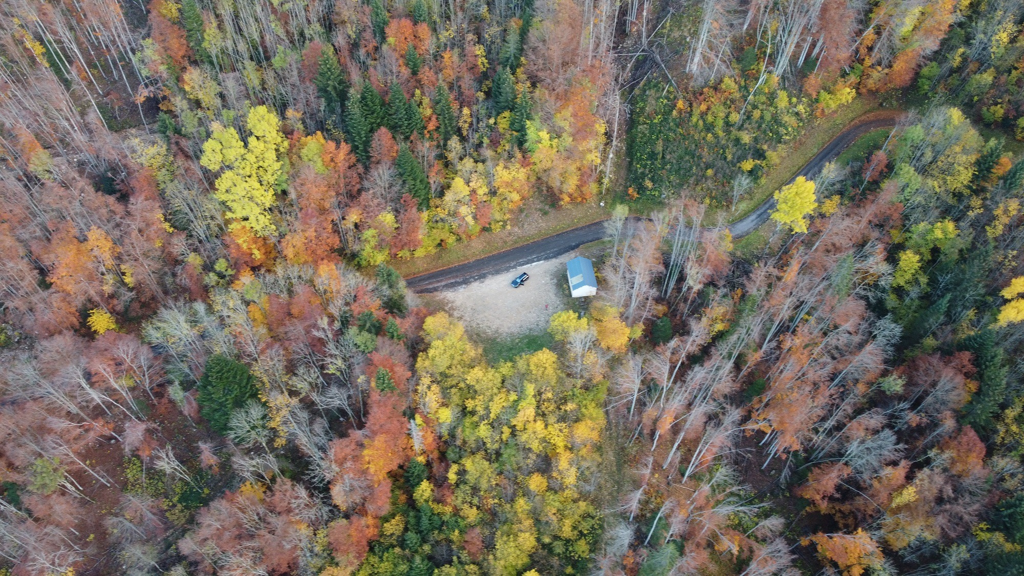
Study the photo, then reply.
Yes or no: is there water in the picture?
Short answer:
No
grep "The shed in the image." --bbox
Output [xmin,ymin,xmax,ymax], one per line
[566,256,597,297]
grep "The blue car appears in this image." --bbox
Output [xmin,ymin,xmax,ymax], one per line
[512,271,530,287]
